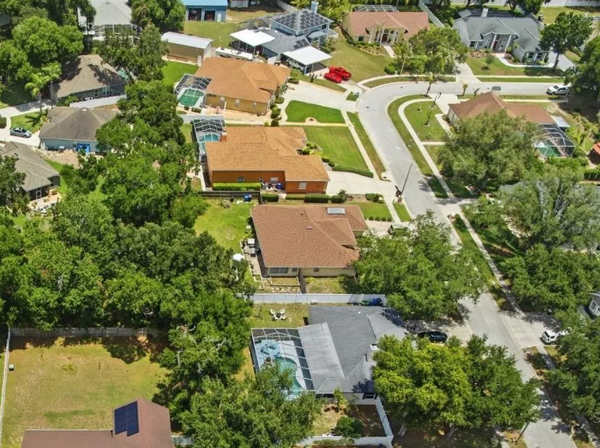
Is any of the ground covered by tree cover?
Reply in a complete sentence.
Yes, tree cover shows up in the scene.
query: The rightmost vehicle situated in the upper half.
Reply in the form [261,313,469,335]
[545,84,574,96]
